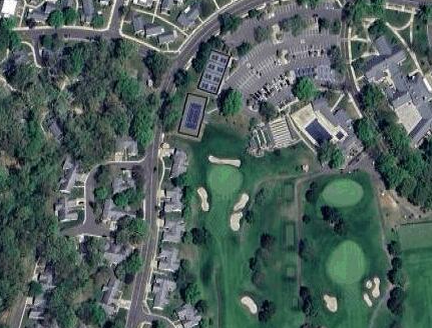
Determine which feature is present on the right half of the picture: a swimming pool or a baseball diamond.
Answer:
swimming pool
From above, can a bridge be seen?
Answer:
No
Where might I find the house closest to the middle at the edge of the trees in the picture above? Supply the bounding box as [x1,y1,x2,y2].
[169,148,191,181]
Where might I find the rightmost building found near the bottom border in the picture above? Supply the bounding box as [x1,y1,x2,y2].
[178,307,205,328]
